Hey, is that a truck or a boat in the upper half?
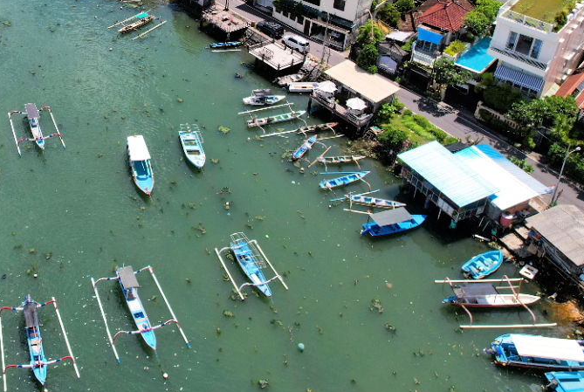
boat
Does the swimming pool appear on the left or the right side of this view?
right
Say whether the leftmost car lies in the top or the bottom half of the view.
top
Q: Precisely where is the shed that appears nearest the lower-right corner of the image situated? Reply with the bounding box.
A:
[519,204,584,285]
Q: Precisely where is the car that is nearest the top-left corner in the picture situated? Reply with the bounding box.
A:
[254,18,285,40]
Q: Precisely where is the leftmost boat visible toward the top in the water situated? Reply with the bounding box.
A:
[9,94,68,157]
